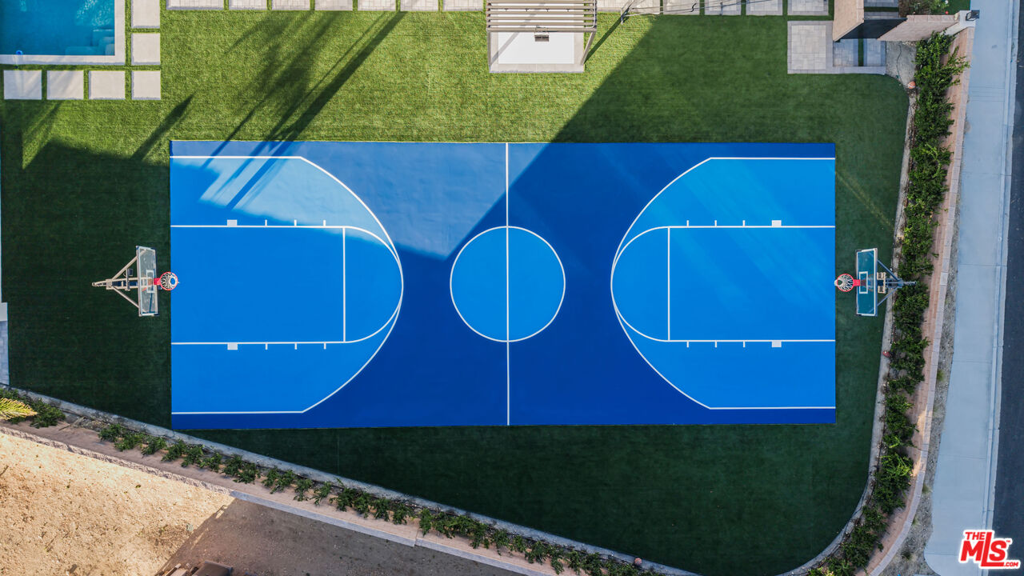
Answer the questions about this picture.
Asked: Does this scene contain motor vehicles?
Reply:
No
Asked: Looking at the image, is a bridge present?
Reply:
No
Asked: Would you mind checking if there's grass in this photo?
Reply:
Yes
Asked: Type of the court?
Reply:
basketball court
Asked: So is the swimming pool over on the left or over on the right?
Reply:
left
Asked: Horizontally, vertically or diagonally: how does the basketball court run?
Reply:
horizontally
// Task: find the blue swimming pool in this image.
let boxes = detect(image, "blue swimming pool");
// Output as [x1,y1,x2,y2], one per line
[0,0,127,66]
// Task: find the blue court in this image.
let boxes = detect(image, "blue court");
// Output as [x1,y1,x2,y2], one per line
[169,141,836,430]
